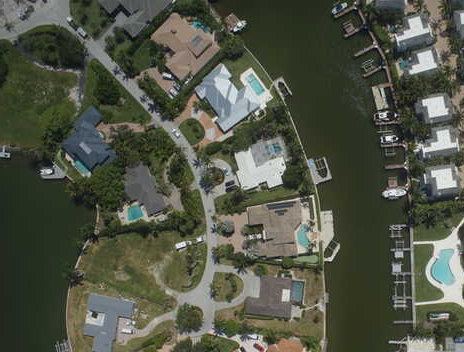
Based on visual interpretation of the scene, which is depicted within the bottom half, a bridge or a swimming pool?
swimming pool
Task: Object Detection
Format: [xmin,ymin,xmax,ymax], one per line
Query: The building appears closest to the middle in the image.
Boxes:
[234,148,284,190]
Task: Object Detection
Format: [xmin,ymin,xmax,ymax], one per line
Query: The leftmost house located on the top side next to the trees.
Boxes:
[62,109,114,170]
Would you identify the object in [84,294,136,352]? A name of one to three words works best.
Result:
house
